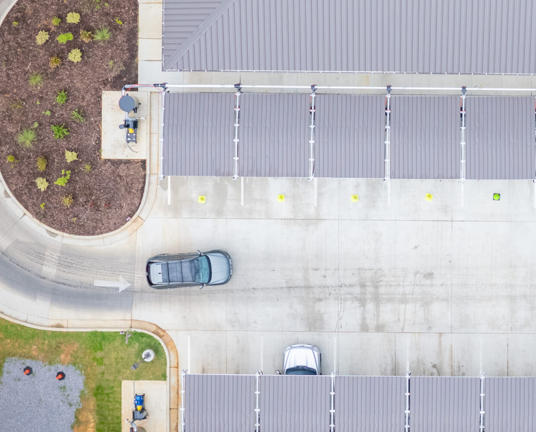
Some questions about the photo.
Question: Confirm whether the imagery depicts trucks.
No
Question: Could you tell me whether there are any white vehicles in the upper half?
No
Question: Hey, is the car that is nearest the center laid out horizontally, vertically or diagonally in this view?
horizontally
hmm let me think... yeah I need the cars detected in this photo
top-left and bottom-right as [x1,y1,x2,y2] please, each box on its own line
[280,342,323,376]
[146,250,233,290]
